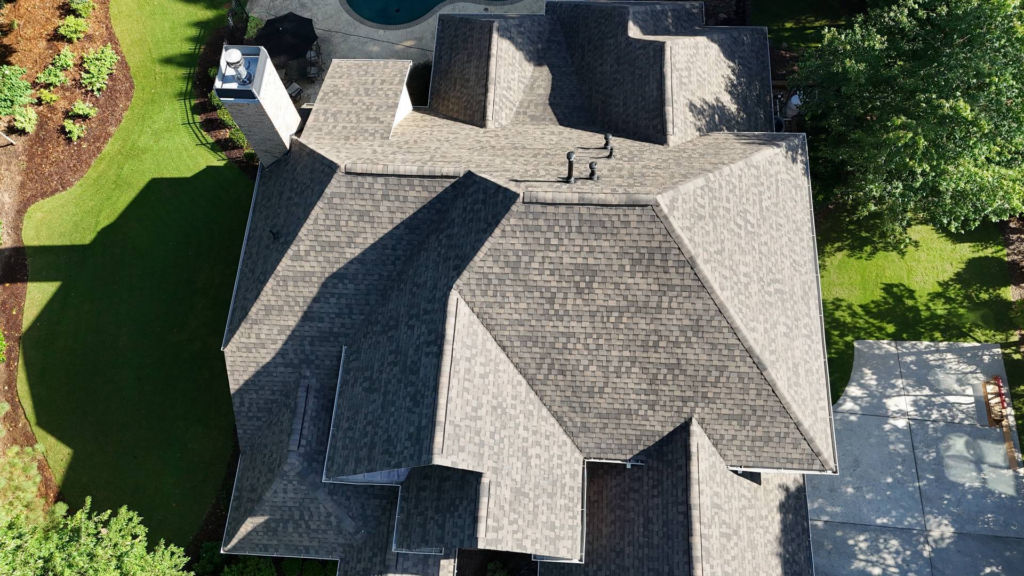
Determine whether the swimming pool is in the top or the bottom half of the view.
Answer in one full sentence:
Seen from above, the swimming pool lies in the top half of the view.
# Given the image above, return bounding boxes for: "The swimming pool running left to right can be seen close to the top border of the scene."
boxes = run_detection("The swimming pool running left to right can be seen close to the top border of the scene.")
[340,0,523,30]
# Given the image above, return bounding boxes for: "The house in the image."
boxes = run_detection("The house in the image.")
[210,0,841,576]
